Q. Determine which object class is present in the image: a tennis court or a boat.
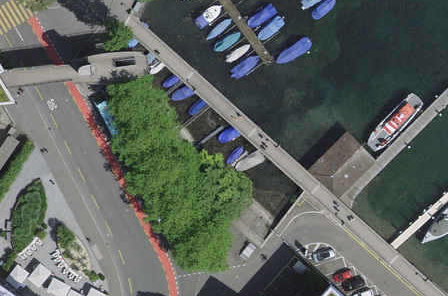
boat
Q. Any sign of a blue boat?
Yes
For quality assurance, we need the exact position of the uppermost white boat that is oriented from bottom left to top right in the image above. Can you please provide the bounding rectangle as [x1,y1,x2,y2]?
[194,5,220,28]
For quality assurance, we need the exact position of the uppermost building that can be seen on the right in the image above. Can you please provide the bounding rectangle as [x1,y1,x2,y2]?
[308,130,376,198]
